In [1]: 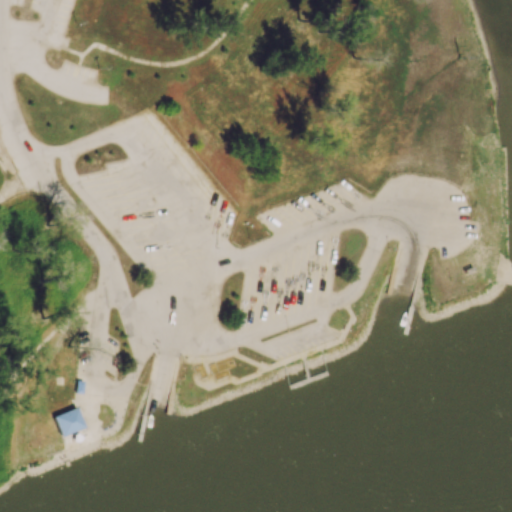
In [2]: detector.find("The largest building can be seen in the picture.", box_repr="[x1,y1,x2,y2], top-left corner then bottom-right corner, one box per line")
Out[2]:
[56,408,86,437]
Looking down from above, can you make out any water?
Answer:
Yes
